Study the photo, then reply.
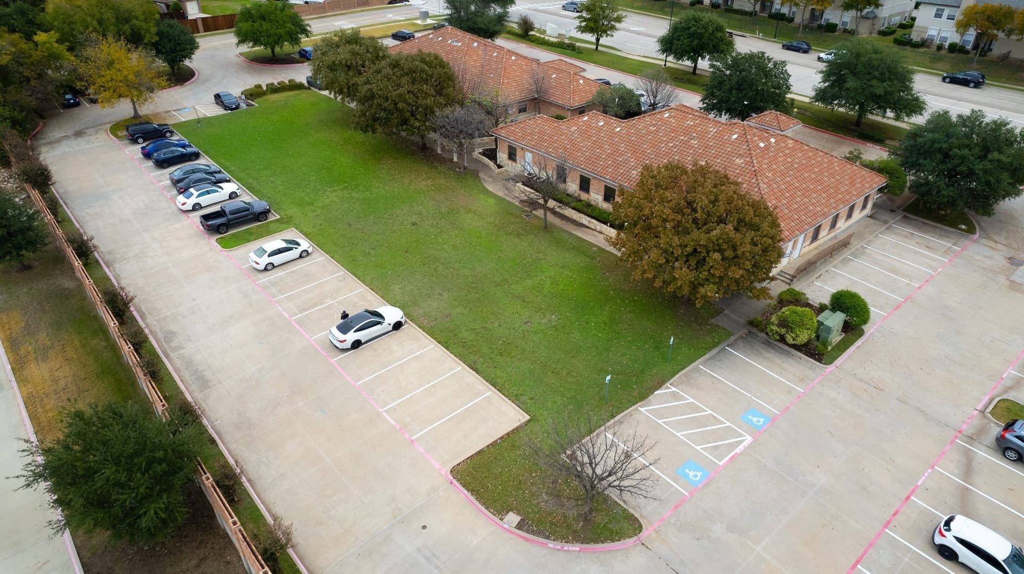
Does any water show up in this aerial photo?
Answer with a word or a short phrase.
No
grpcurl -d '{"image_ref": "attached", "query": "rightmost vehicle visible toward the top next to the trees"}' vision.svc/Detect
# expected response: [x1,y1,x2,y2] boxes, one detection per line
[939,71,986,89]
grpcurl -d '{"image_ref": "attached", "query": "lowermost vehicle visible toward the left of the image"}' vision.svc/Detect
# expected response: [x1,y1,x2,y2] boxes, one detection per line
[327,304,406,350]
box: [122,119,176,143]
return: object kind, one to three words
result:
car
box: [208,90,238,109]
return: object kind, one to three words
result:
car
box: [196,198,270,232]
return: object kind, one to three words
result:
truck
